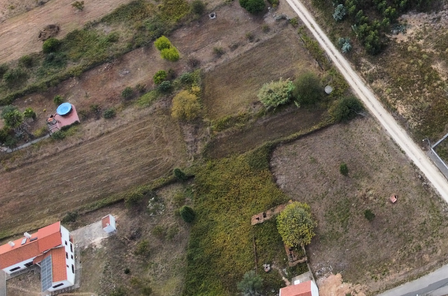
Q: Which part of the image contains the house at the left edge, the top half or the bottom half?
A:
bottom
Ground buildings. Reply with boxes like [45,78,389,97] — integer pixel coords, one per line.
[0,221,74,295]
[103,215,114,232]
[279,280,318,296]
